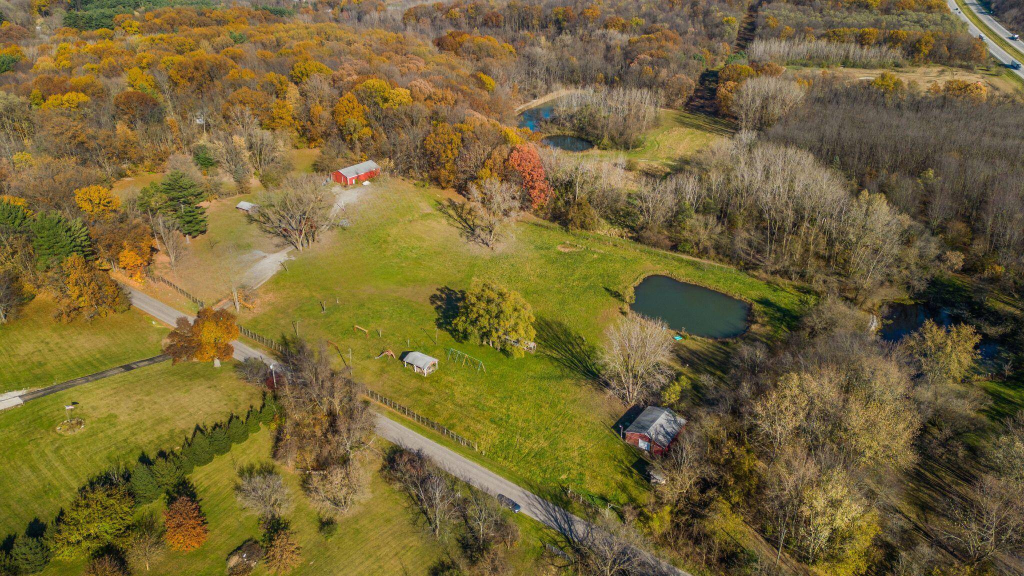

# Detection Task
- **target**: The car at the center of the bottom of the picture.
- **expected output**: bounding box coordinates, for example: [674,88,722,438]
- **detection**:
[499,491,521,509]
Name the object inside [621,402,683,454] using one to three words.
shed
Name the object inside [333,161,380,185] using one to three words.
barn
